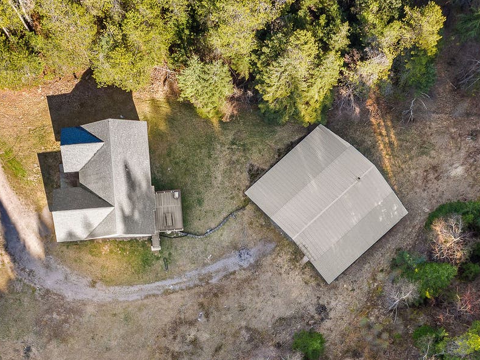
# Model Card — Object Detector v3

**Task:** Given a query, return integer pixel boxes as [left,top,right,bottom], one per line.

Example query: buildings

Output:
[51,118,185,250]
[246,123,406,285]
